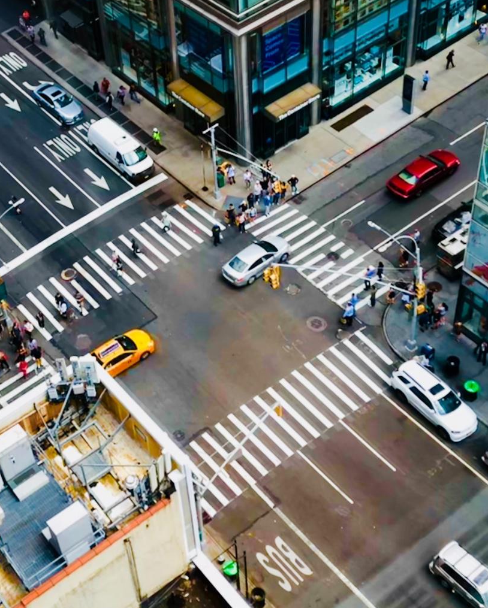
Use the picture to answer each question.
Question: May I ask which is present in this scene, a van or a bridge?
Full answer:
I can see a van in this picture.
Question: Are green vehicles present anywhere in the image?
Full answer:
No, there appears to be no green vehicle in this shot.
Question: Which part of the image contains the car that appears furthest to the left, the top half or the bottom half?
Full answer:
The car that appears furthest to the left sits in the top half of the picture.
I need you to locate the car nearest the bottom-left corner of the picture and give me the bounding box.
[98,330,156,376]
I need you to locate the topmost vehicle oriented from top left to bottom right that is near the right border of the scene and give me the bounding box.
[395,360,484,437]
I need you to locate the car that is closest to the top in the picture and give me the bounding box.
[35,81,85,122]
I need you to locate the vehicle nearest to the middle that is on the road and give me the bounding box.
[224,230,295,284]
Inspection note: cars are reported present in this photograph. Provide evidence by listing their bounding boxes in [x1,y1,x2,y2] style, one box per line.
[224,230,295,284]
[390,145,461,196]
[98,330,156,376]
[35,81,85,122]
[395,360,484,437]
[437,196,472,235]
[440,546,488,608]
